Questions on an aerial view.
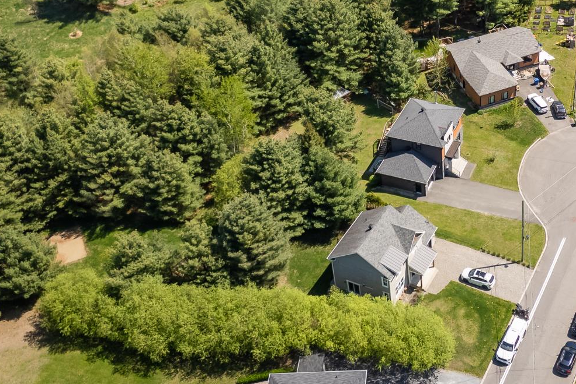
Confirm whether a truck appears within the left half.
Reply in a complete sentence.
No, no truck appears within the left half.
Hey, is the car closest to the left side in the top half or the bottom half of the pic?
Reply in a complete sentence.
The car closest to the left side sits in the bottom half of the picture.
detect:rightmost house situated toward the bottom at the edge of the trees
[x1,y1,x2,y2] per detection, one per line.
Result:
[327,205,440,299]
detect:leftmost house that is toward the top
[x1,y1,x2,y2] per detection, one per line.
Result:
[368,97,469,196]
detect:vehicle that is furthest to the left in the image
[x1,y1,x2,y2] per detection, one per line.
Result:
[460,268,497,292]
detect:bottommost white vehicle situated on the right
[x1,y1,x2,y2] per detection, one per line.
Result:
[496,318,530,366]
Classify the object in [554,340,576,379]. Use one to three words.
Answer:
car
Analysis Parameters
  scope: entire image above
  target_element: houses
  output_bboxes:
[448,26,541,108]
[267,354,366,384]
[327,205,440,299]
[368,97,469,196]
